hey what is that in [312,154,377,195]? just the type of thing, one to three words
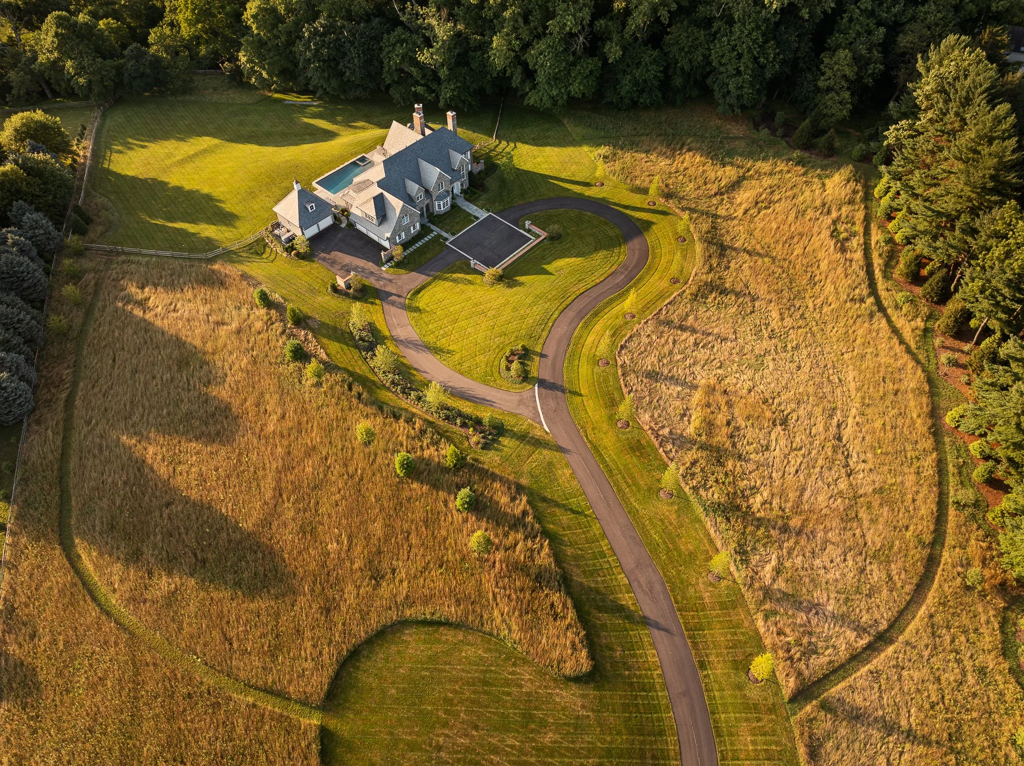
swimming pool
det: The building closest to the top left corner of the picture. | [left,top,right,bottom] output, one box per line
[270,175,335,238]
